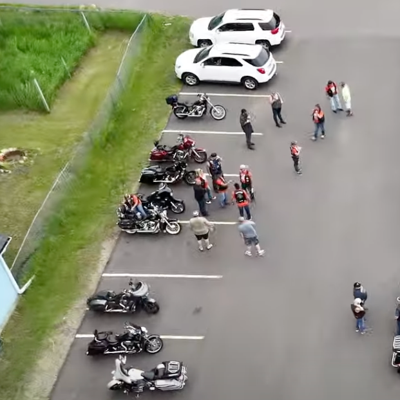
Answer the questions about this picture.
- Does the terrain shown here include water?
No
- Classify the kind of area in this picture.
parking lot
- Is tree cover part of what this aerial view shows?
No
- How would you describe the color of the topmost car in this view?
white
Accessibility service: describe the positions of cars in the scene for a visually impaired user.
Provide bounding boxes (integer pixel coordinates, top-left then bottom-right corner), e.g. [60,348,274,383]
[186,1,292,50]
[170,39,277,90]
